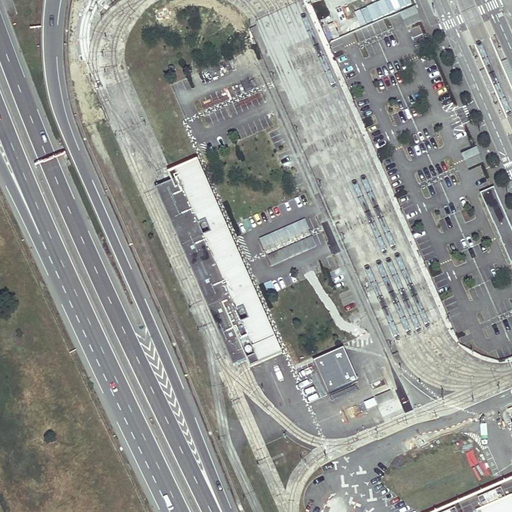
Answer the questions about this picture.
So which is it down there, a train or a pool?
train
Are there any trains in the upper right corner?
Yes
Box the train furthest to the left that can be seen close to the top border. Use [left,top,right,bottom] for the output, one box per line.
[302,14,335,86]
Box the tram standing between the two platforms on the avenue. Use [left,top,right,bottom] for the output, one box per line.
[477,42,511,114]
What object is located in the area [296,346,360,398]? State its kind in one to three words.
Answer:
building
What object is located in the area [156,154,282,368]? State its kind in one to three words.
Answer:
building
